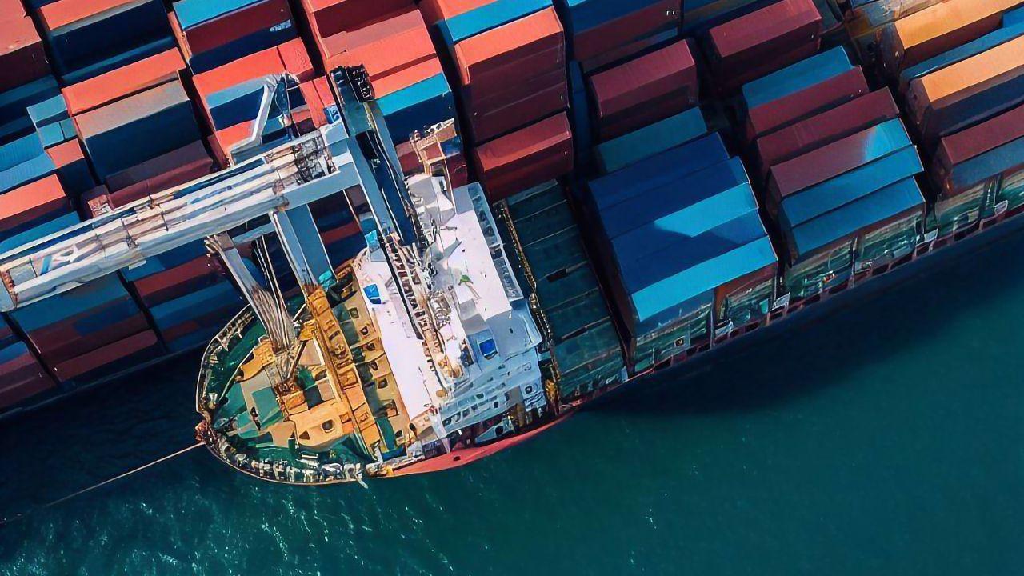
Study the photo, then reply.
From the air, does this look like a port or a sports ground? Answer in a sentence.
This looks like a port.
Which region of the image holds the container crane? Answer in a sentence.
Look in the left portion of the view to spot the container crane.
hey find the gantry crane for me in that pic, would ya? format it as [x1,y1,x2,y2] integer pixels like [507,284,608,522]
[0,45,464,472]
